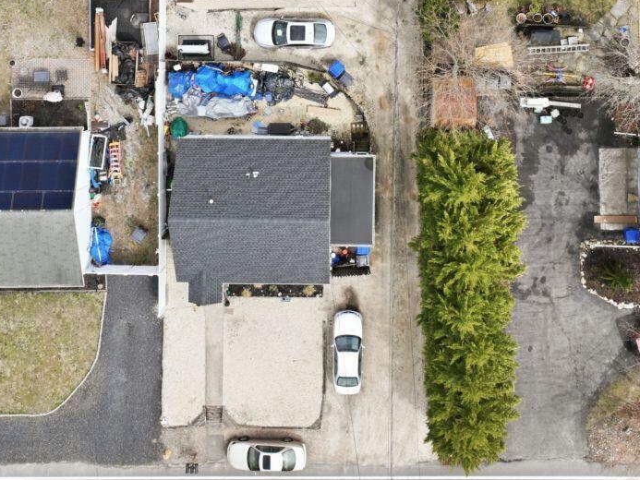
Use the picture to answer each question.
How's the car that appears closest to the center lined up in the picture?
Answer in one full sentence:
In this picture, the car that appears closest to the center is oriented up and down.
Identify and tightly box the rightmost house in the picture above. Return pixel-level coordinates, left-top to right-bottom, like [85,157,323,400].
[168,136,374,305]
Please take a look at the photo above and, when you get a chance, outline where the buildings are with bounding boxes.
[0,127,90,291]
[168,136,374,305]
